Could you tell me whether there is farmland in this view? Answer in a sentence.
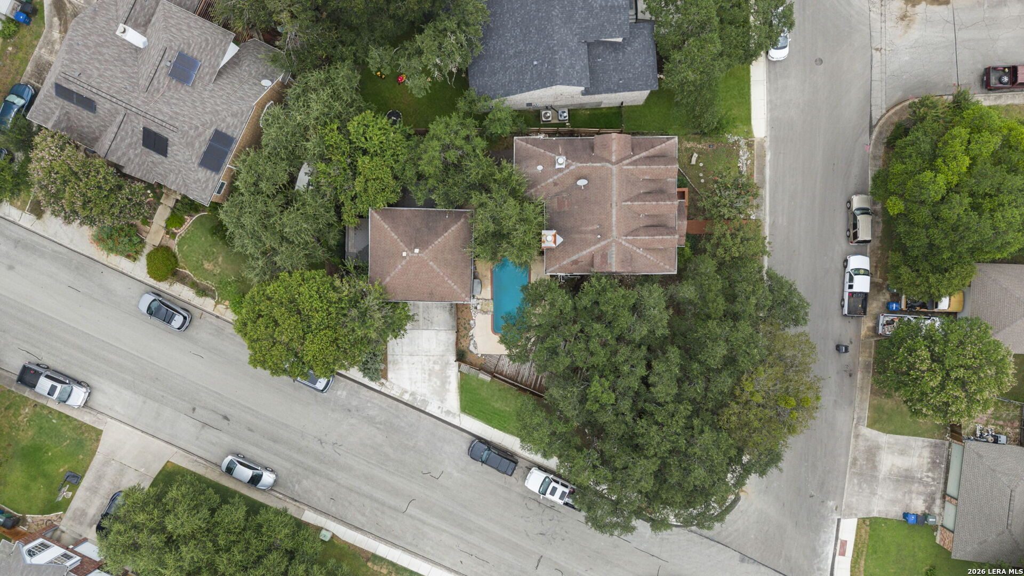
No, the picture contains no farmland.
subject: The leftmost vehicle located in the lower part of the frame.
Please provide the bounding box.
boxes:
[18,361,88,407]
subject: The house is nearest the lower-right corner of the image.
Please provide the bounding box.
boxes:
[936,441,1024,572]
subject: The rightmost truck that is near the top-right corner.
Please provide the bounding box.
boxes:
[980,64,1024,91]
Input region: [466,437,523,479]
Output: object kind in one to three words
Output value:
truck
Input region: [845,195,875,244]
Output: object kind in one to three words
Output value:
car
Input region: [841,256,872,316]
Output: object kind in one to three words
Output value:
truck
